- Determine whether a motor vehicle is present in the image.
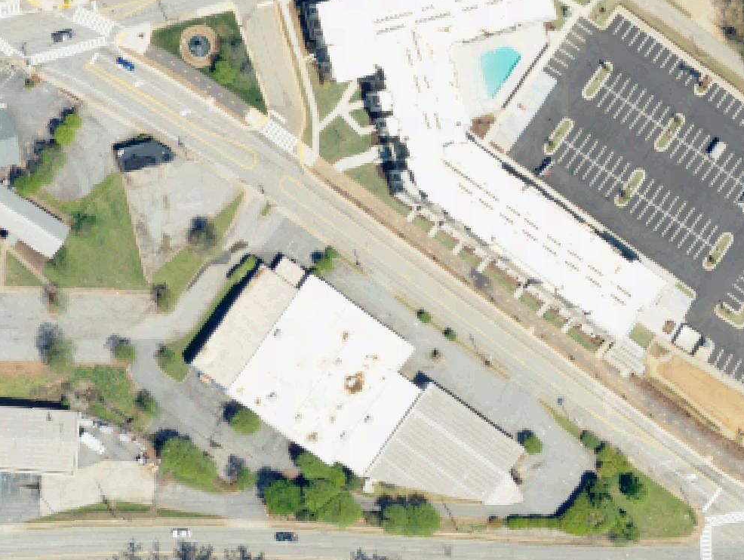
Yes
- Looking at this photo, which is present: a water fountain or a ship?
water fountain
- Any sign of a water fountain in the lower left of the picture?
No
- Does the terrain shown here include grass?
Yes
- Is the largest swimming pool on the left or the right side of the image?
right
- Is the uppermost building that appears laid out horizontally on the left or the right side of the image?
left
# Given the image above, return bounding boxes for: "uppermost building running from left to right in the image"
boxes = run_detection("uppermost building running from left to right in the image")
[118,144,175,173]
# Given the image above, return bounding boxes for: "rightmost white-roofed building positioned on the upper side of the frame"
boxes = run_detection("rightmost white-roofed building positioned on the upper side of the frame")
[298,0,671,343]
